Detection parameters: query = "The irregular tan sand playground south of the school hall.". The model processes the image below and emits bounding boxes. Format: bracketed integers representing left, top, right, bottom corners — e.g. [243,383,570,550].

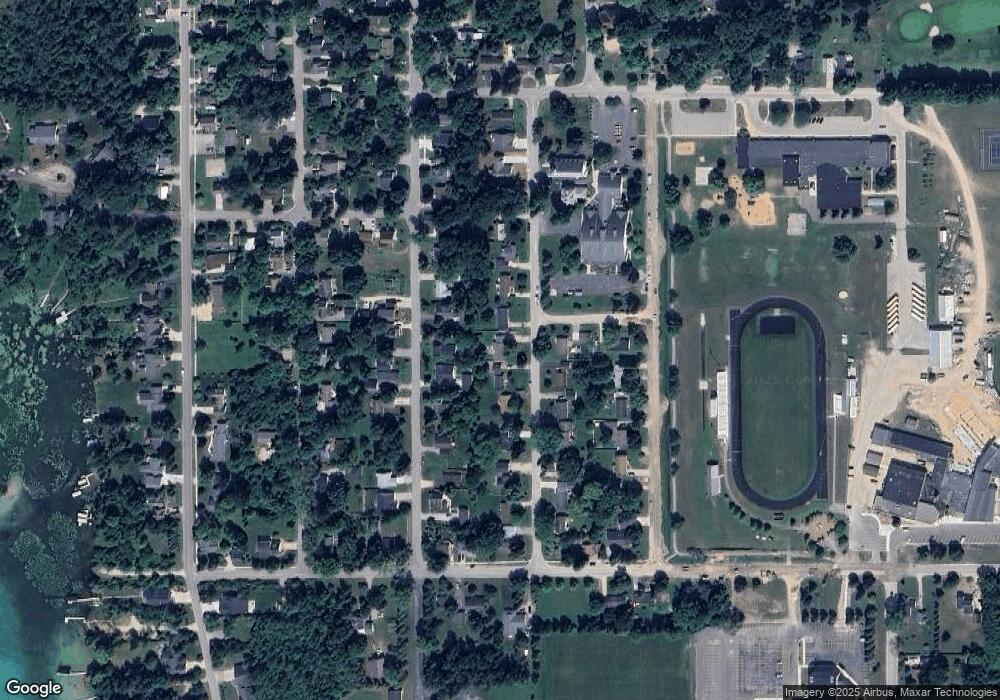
[714,176,775,226]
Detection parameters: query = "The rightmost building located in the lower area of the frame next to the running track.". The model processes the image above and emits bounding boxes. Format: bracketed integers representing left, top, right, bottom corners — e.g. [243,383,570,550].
[871,423,1000,522]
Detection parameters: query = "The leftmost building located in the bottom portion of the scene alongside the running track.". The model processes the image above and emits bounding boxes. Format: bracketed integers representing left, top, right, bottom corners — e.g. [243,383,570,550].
[706,464,721,496]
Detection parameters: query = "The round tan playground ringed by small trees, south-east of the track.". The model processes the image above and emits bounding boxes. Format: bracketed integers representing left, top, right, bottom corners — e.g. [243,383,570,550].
[809,514,832,541]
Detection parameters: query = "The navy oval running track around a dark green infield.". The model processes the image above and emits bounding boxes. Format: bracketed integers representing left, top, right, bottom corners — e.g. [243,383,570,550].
[729,296,827,511]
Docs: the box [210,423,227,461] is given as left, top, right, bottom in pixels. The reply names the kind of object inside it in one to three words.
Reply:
house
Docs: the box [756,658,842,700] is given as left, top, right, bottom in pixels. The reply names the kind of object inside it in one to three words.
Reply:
building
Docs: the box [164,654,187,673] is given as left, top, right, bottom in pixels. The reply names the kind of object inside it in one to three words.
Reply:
house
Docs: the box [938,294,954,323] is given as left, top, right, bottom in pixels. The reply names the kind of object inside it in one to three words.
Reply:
building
